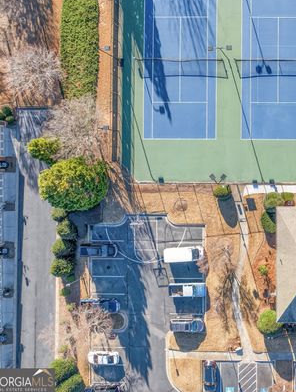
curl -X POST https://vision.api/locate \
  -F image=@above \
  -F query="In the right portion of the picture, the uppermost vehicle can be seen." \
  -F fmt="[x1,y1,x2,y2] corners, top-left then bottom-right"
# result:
[160,246,205,263]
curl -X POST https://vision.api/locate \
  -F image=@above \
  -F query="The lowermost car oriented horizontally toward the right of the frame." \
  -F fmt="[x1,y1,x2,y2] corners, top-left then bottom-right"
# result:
[170,316,205,333]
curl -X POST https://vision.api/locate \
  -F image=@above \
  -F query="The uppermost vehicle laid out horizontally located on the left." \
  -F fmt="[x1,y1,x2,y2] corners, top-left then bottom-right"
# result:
[81,243,119,258]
